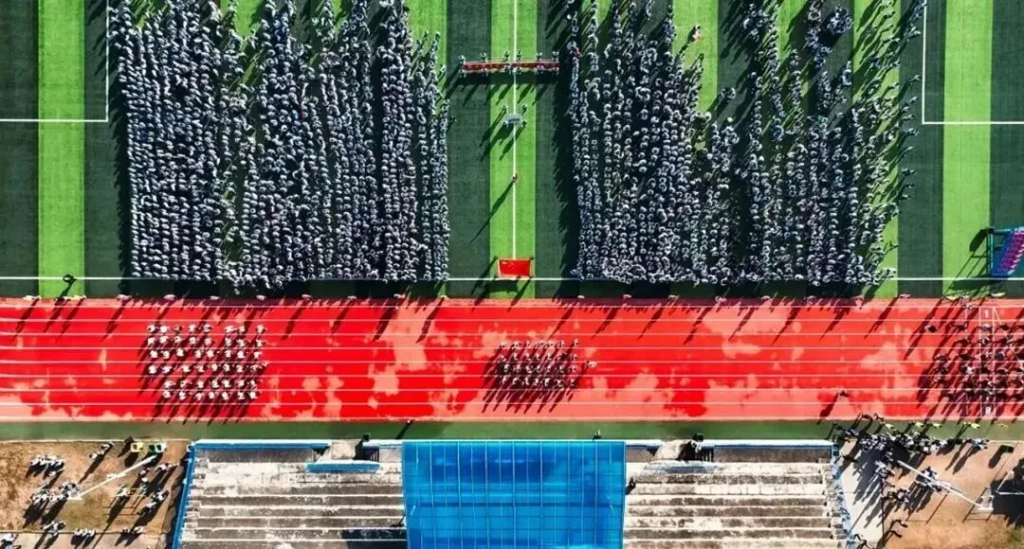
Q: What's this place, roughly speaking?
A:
sports ground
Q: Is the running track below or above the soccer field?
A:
below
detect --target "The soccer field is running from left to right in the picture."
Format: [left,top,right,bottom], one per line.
[0,0,1024,299]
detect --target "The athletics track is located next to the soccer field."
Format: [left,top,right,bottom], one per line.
[0,299,1024,422]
